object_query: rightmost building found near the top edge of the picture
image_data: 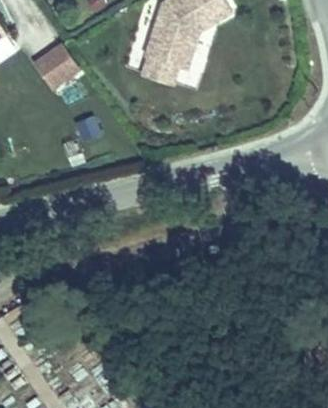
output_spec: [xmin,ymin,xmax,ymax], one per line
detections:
[126,0,238,88]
